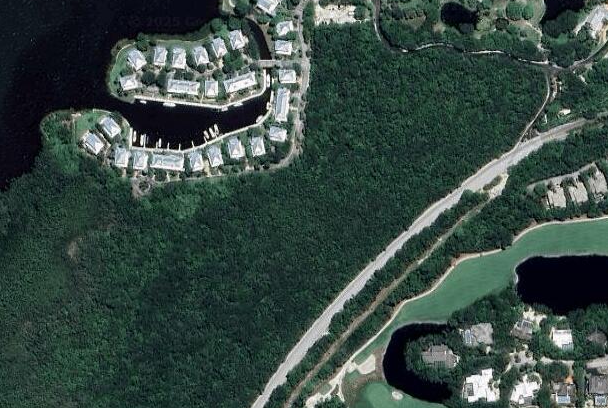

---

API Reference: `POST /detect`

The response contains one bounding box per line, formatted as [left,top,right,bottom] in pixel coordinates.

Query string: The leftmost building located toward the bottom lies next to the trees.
[422,345,459,365]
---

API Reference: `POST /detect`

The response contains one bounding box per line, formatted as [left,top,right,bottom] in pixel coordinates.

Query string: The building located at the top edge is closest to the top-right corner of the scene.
[586,3,608,35]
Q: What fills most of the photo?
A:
trees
